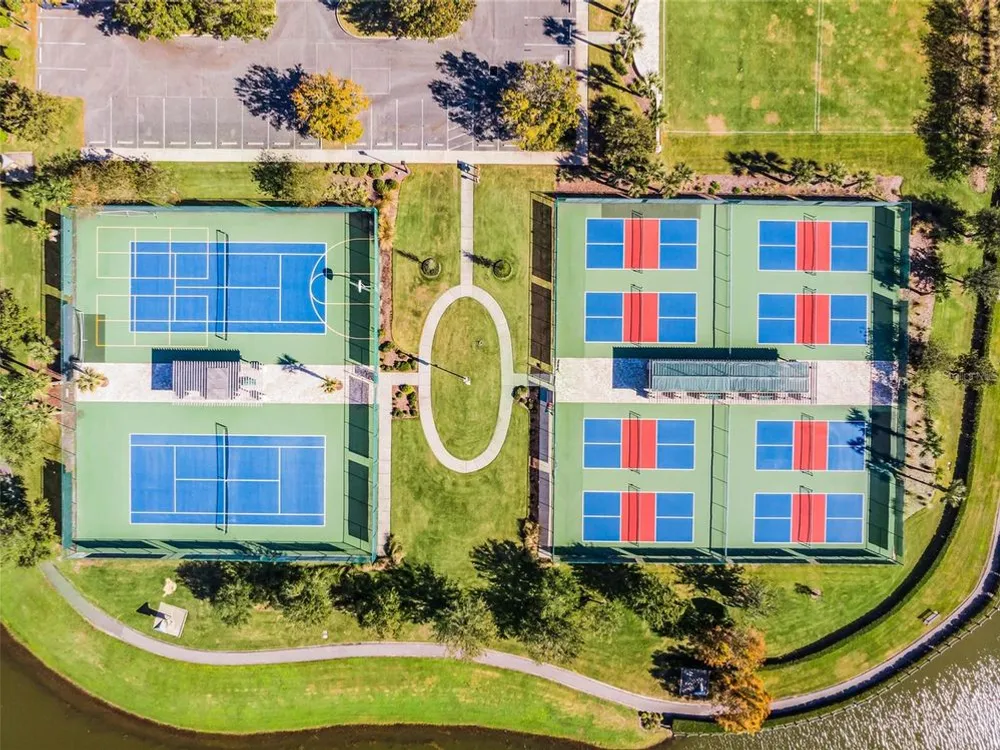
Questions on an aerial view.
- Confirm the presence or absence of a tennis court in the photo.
Yes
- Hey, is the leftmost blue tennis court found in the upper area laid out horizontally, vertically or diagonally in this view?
horizontally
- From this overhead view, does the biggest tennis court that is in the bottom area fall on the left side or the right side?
left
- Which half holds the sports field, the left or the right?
right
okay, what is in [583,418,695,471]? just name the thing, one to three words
sports court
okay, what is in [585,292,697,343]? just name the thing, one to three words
sports court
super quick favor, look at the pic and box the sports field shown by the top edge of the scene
[663,0,924,133]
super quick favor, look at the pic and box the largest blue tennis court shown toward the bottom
[130,434,326,526]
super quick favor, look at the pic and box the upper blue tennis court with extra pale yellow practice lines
[130,241,326,335]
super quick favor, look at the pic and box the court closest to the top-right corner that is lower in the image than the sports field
[758,220,869,271]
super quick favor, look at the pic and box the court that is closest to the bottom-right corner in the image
[754,492,864,543]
